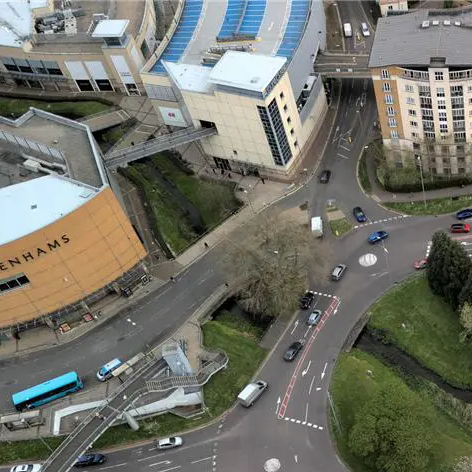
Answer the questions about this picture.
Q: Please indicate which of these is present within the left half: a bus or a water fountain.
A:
bus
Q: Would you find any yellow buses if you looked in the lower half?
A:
No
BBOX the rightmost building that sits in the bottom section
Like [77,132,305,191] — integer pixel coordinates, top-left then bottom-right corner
[159,335,200,381]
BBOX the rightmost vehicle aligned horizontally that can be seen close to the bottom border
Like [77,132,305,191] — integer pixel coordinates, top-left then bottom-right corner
[156,436,184,450]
